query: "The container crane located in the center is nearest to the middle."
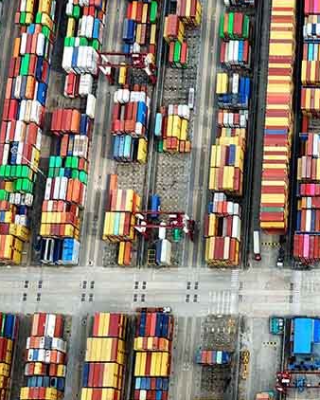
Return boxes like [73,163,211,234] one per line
[135,212,209,245]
